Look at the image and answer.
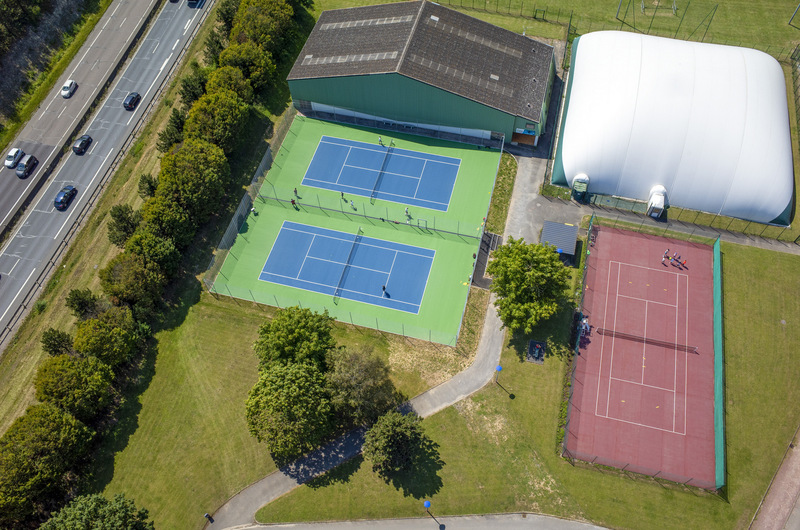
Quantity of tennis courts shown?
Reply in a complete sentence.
My tally gives 3 tennis courts in this view.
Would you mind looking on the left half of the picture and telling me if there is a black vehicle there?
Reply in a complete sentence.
Yes, you'll find a black vehicle on the left half of the picture.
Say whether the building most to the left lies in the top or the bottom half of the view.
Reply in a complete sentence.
You can find the building most to the left in the top half.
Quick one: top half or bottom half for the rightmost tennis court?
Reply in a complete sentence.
It is in the bottom half that the rightmost tennis court appears.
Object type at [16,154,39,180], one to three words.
car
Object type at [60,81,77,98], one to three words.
car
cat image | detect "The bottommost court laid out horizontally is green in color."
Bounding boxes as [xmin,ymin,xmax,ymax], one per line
[213,199,480,345]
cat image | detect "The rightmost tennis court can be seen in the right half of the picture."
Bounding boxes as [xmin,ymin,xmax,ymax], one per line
[565,224,722,493]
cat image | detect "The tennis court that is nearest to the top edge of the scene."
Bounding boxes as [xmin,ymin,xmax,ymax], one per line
[256,116,500,240]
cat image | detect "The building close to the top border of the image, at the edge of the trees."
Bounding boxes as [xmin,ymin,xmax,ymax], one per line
[286,0,556,148]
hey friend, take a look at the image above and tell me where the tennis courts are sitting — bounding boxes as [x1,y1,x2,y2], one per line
[256,116,500,240]
[213,199,480,345]
[565,224,722,493]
